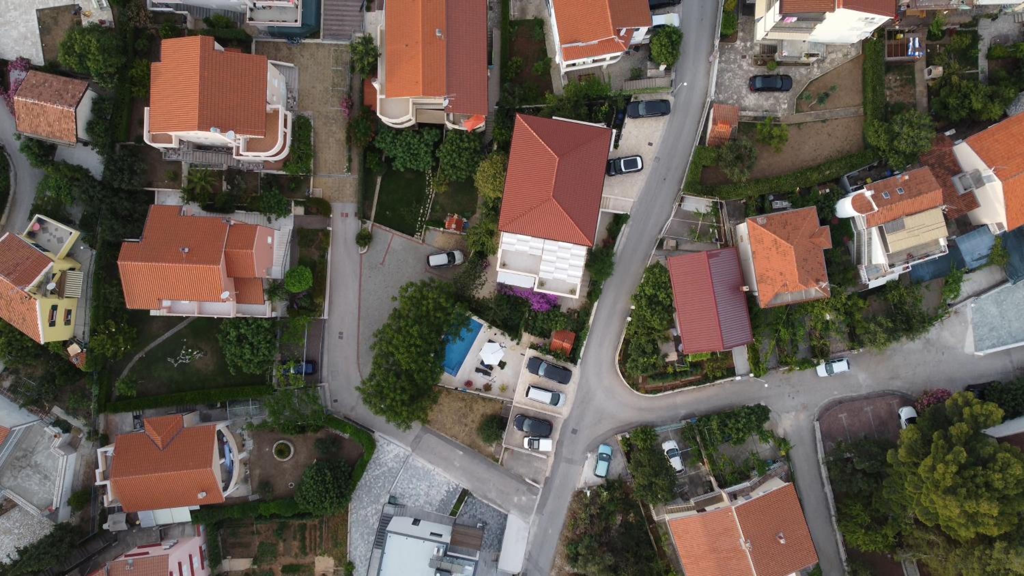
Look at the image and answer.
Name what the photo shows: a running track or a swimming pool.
swimming pool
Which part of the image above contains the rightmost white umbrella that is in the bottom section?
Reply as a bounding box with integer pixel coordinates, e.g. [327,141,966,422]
[478,340,512,365]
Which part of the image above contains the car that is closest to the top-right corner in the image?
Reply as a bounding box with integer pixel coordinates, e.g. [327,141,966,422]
[746,71,793,94]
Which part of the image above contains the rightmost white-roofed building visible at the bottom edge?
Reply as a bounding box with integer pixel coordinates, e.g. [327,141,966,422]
[498,509,529,575]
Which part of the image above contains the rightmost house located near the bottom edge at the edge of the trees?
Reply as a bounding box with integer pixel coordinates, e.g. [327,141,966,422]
[649,454,818,576]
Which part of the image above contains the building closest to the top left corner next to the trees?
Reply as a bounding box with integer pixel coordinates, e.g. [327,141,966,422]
[13,70,107,148]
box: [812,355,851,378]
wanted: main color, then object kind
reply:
white car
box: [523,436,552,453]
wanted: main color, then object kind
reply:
white vehicle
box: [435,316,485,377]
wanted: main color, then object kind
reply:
blue swimming pool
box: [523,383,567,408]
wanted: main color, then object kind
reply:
white car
